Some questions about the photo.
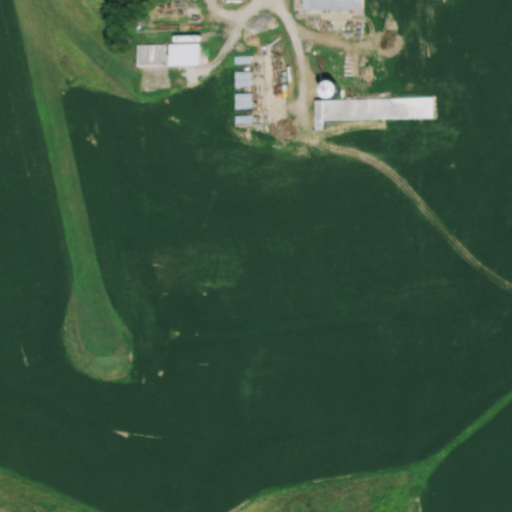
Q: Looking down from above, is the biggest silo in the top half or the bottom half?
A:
top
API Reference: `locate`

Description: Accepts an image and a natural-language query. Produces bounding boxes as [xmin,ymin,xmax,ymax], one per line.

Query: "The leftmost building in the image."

[137,45,168,68]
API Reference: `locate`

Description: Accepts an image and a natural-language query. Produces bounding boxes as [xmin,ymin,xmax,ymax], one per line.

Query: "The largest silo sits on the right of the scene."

[317,80,340,100]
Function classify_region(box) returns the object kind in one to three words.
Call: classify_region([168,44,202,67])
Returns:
shed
